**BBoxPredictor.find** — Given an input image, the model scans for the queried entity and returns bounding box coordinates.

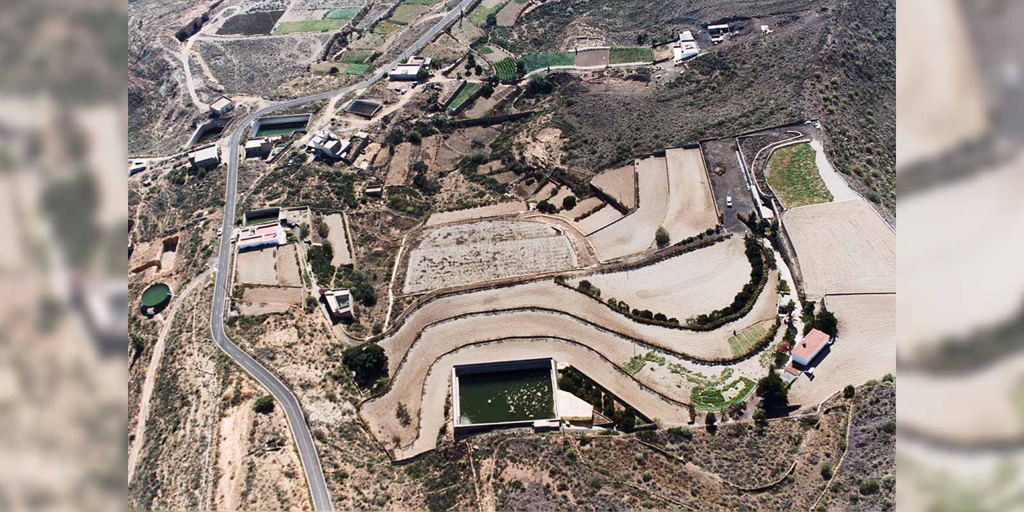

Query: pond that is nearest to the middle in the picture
[452,358,561,434]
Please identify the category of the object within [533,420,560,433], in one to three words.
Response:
shed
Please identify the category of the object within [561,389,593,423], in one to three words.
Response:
shed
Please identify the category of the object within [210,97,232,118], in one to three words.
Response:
house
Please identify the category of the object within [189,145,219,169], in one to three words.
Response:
house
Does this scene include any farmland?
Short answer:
Yes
